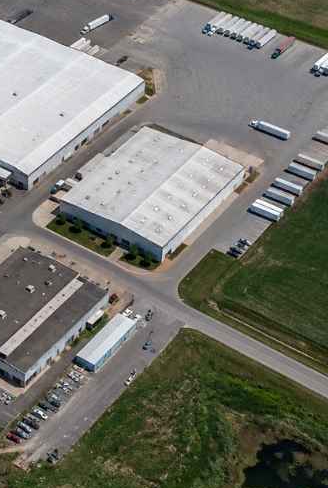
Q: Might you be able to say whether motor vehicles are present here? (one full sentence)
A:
Yes, the picture does show a motor vehicle.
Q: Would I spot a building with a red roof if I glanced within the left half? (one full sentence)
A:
No, I see no building with a red roof within the left half.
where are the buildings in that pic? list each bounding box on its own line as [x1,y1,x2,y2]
[73,310,138,374]
[0,244,109,386]
[52,125,247,259]
[0,19,146,191]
